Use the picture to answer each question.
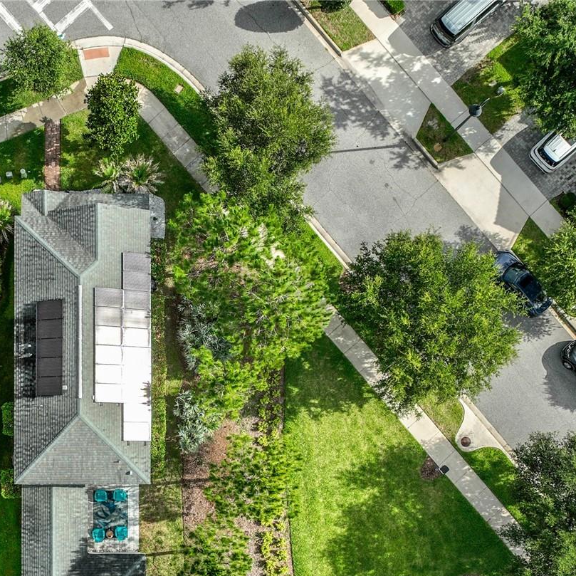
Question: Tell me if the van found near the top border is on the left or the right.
right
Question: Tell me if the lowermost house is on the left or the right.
left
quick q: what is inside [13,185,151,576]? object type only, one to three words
house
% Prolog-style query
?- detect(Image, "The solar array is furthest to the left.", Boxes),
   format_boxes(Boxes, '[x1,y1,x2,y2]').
[36,296,63,398]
